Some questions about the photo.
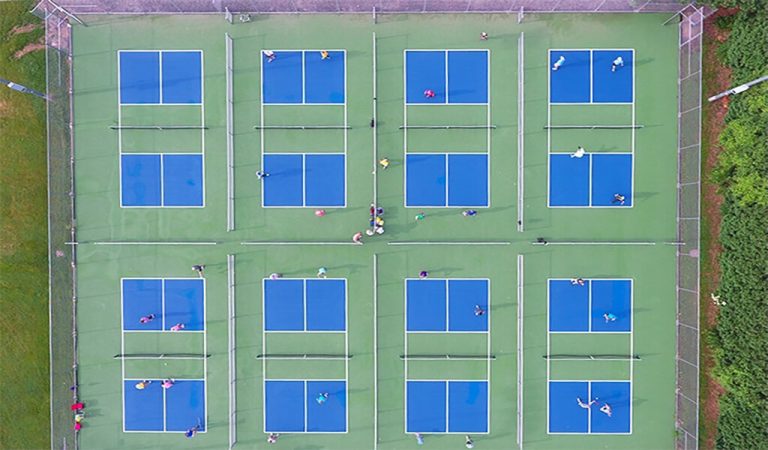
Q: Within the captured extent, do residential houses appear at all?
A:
No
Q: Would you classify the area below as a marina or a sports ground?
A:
sports ground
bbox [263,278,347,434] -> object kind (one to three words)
sports court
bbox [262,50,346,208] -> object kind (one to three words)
sports court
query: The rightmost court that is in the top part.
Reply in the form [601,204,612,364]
[548,49,634,208]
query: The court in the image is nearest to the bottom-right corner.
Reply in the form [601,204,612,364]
[548,278,633,434]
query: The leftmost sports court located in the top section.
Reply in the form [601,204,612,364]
[118,50,205,208]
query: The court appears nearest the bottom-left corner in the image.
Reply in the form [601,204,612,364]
[122,278,206,433]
